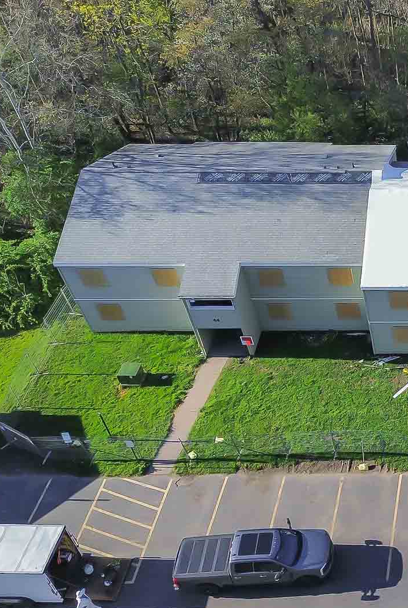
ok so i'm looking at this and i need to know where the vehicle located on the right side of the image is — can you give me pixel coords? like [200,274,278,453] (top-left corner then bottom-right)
[172,524,342,590]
